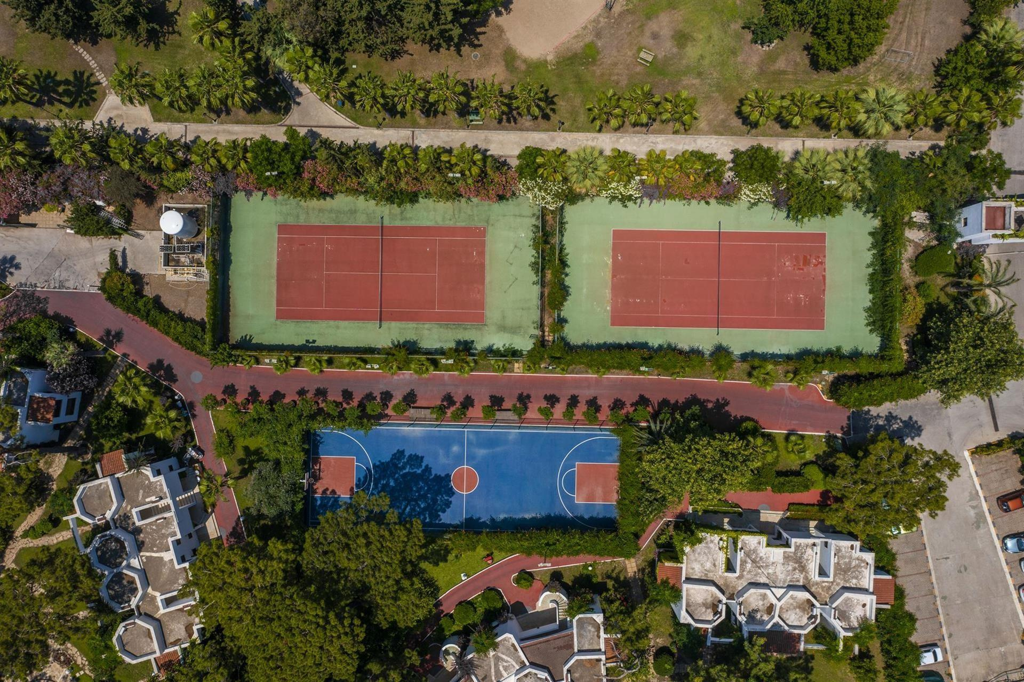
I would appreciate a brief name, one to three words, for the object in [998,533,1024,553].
car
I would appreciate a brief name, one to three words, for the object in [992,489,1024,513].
car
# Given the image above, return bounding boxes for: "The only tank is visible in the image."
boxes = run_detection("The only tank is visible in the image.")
[160,210,197,239]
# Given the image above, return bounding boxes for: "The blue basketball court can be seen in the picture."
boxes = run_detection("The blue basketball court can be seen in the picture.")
[305,422,623,533]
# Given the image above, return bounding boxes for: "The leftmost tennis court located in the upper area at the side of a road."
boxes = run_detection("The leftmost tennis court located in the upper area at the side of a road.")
[229,188,538,355]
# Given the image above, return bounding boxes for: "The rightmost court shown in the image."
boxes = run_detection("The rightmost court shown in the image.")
[555,195,878,359]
